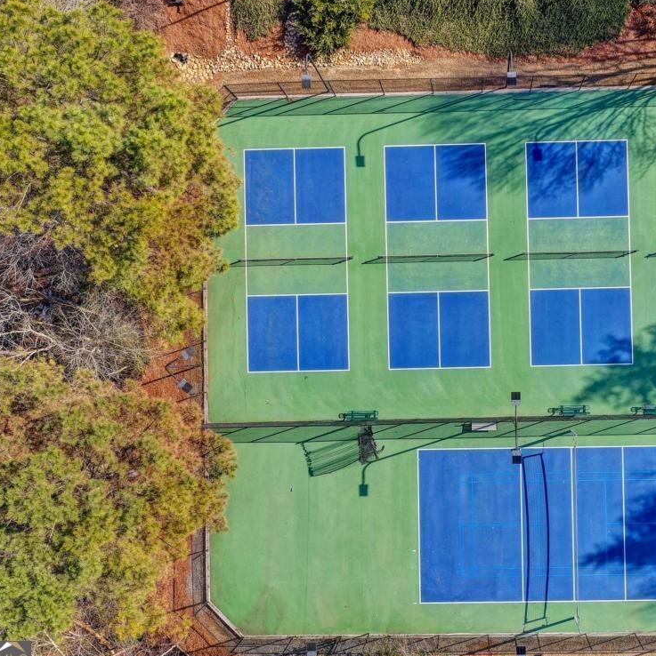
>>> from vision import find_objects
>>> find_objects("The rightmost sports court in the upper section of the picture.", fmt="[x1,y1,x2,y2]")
[526,140,634,367]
